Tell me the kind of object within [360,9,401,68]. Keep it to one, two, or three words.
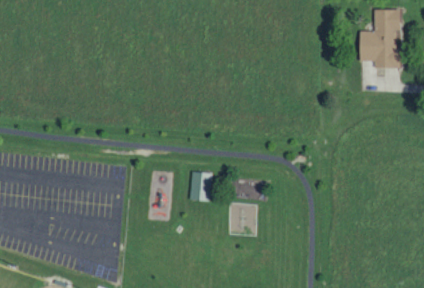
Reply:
house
